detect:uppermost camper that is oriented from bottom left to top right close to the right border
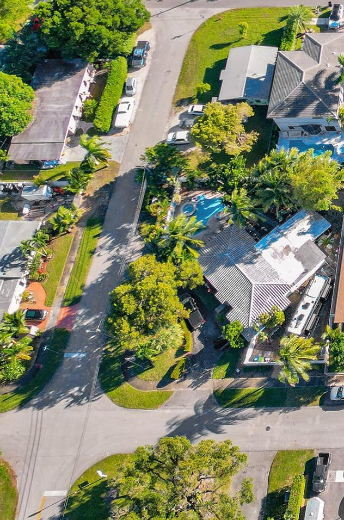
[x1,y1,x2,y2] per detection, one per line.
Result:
[287,271,335,332]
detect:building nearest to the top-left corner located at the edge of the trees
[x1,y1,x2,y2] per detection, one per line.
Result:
[7,58,95,165]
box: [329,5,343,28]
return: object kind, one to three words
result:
car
